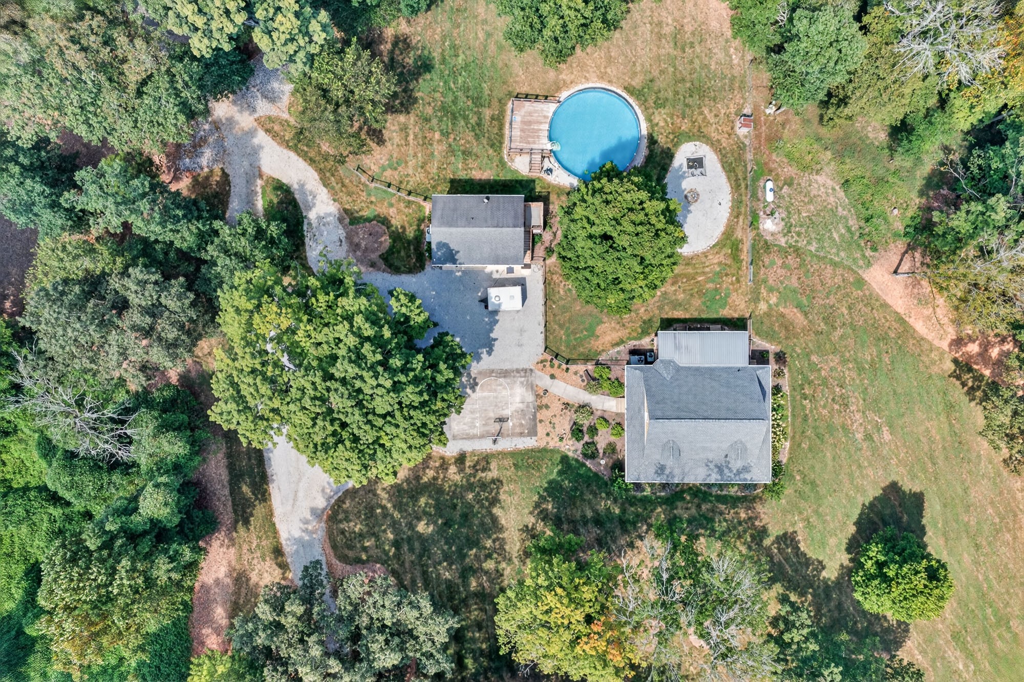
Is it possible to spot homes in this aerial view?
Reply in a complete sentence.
Yes, you can see a home in this photo.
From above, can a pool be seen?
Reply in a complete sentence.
Yes, there is a pool in the image.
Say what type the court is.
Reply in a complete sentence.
The court in the image is a basketball court.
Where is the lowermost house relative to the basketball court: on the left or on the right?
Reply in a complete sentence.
You can see the lowermost house positioned to the right of the basketball court.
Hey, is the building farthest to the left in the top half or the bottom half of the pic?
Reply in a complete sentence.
You can find the building farthest to the left in the top half.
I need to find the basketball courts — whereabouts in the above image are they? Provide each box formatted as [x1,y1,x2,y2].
[450,369,537,438]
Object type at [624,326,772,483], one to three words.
house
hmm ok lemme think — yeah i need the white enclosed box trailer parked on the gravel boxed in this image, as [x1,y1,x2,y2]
[479,286,523,312]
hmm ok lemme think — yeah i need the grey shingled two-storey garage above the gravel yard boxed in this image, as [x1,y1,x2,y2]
[430,194,543,269]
